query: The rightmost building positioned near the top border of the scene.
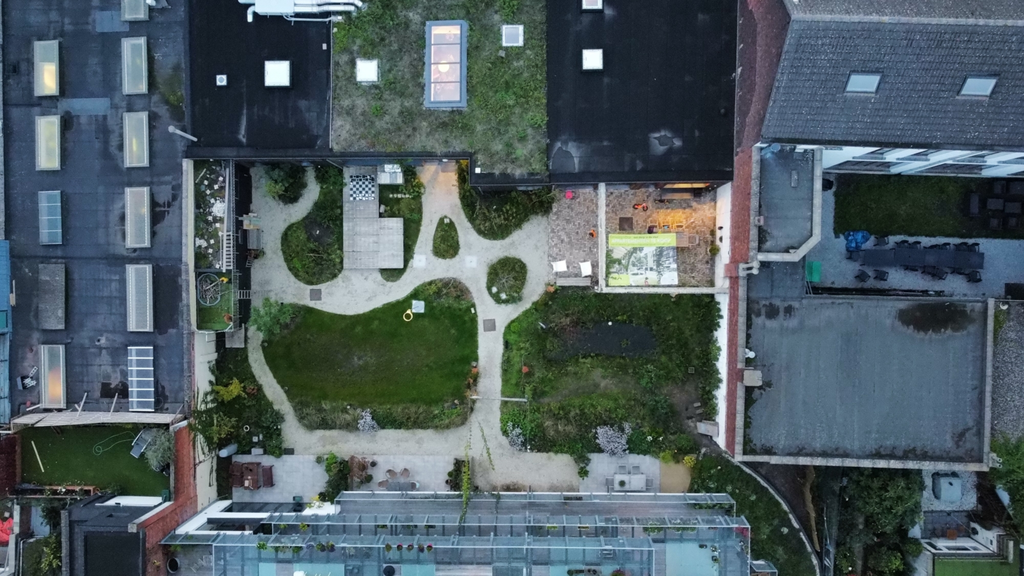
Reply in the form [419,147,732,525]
[734,0,1024,178]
